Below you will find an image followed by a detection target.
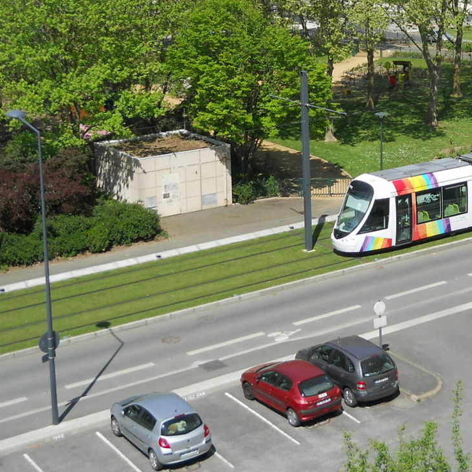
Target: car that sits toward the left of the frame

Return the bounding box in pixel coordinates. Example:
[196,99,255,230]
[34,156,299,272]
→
[110,389,219,470]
